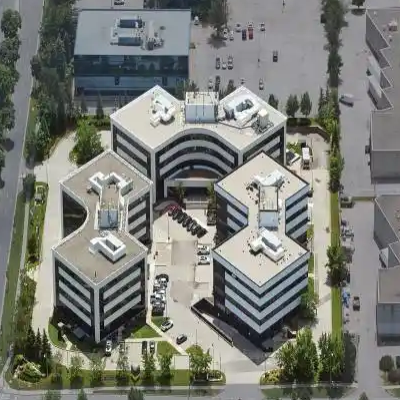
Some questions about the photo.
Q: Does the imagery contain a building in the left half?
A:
Yes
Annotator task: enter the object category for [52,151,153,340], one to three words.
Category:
building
